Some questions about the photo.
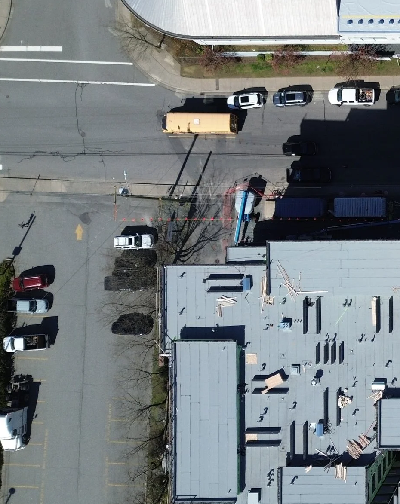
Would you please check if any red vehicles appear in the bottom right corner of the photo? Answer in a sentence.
No, looking in the bottom right corner of the photo, there is no red vehicle.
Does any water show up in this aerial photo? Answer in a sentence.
No, there is no water in the image.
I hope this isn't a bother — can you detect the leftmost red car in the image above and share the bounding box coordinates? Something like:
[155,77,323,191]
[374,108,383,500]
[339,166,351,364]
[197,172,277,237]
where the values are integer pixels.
[14,273,49,292]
